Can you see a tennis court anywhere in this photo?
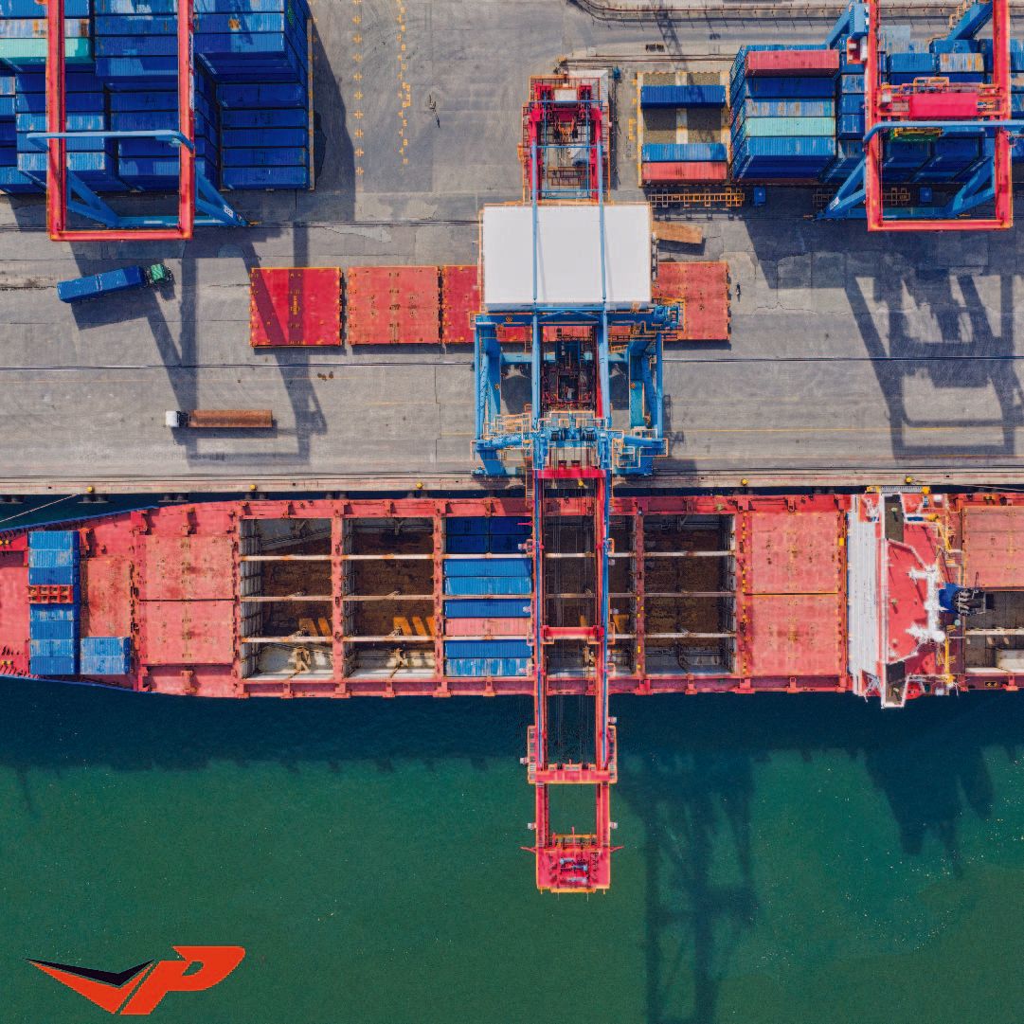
No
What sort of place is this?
port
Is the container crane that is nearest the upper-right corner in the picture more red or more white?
red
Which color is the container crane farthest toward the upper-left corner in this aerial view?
red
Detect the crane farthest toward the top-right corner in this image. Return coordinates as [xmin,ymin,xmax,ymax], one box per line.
[806,0,1016,232]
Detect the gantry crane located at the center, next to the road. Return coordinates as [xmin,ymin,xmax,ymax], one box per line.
[466,69,686,901]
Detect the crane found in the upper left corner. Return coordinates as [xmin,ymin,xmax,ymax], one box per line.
[36,0,256,242]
